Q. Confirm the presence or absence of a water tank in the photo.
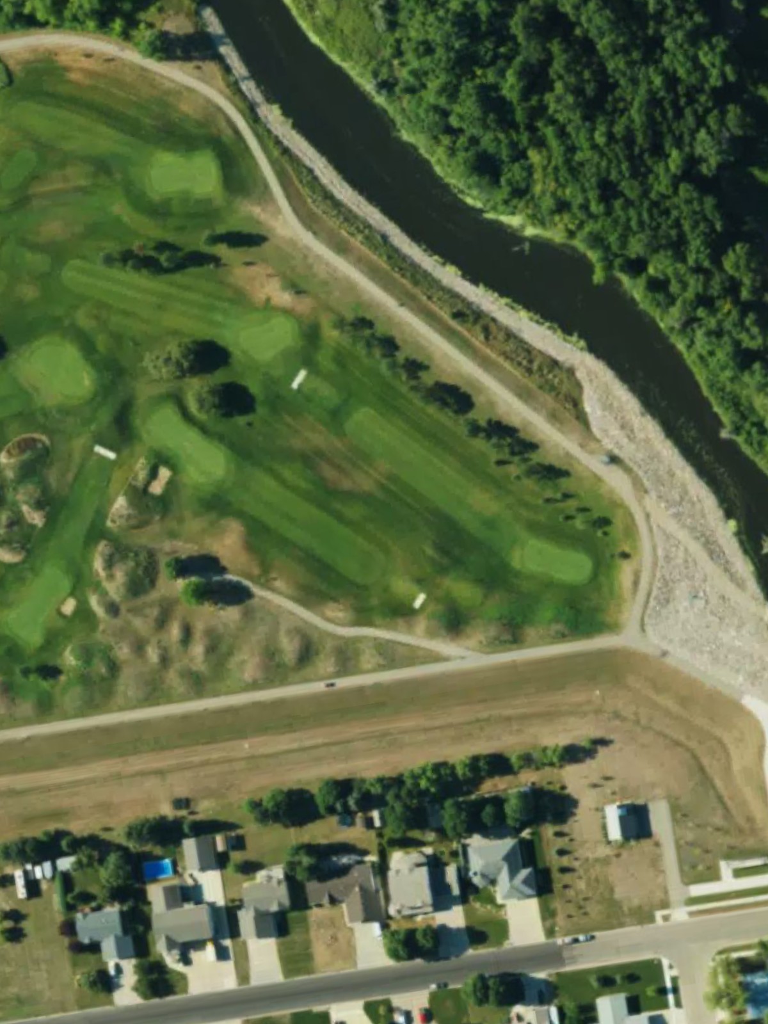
No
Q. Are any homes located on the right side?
Yes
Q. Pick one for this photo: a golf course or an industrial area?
golf course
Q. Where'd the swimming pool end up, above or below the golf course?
below it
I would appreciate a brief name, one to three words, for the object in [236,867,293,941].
house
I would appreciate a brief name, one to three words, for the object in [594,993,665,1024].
house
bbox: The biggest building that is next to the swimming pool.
[146,881,215,955]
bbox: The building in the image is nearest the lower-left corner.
[76,910,135,963]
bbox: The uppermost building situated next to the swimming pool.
[182,836,219,873]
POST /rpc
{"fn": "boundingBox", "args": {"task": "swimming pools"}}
[143,858,173,880]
